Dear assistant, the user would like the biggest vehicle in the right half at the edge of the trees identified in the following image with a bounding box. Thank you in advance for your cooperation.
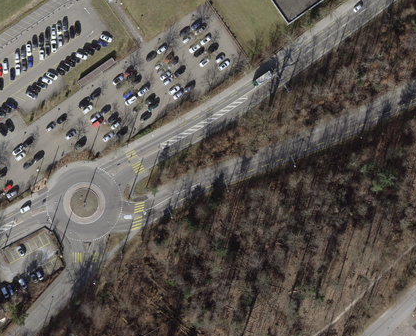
[251,70,274,88]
